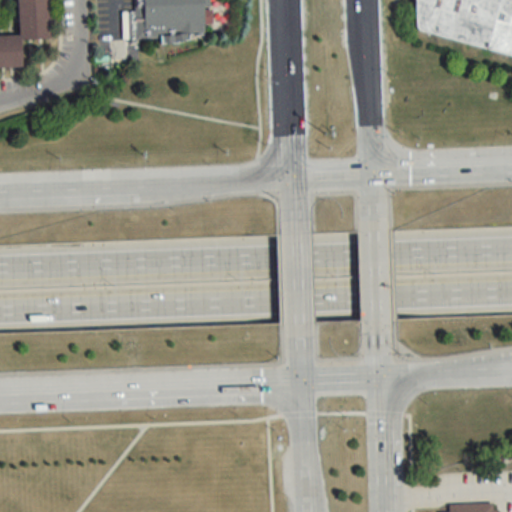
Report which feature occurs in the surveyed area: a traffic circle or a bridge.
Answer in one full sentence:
It is a bridge that can be seen here.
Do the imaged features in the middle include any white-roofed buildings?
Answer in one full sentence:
No, I see no white-roofed building in the middle.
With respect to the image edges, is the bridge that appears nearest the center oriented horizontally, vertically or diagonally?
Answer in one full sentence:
The bridge that appears nearest the center has been laid out vertically relative to the frame.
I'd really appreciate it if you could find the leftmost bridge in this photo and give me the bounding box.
[276,231,316,326]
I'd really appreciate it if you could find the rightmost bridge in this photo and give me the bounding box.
[358,228,397,324]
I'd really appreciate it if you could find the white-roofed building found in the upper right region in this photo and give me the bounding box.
[416,0,512,54]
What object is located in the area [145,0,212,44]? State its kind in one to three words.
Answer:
building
